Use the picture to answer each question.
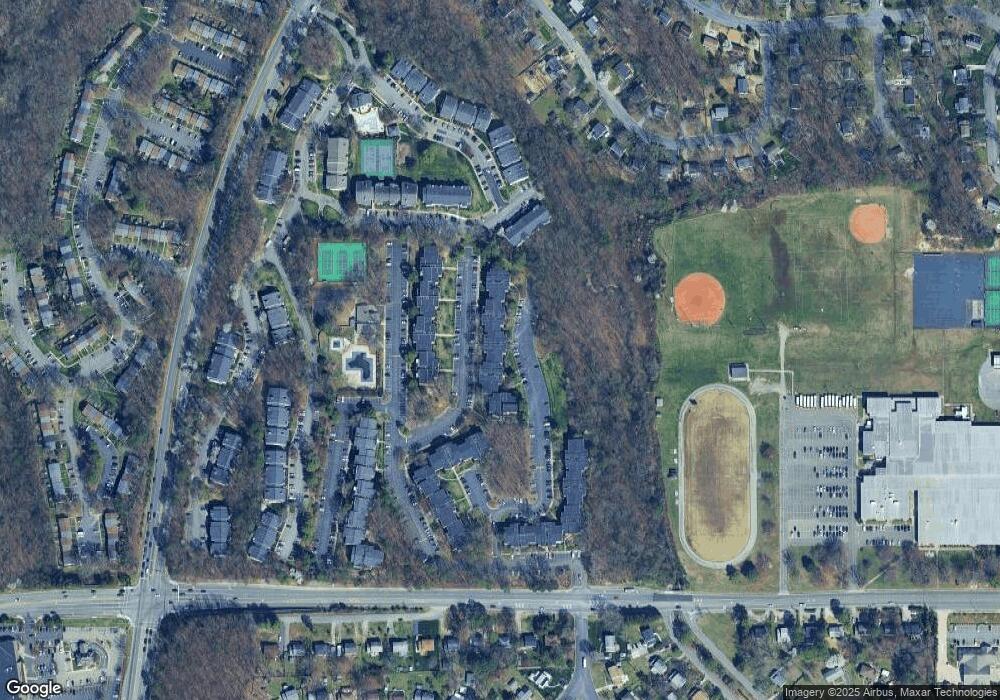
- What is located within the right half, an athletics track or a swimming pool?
athletics track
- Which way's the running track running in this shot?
up and down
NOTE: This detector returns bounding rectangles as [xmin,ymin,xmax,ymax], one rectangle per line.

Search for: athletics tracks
[678,384,758,570]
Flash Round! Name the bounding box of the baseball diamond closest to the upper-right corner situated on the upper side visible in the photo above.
[850,203,888,244]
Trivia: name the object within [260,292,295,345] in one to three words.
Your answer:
building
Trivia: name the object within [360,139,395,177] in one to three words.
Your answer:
tennis court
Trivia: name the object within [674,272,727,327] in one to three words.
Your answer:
baseball field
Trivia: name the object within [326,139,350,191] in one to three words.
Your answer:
building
